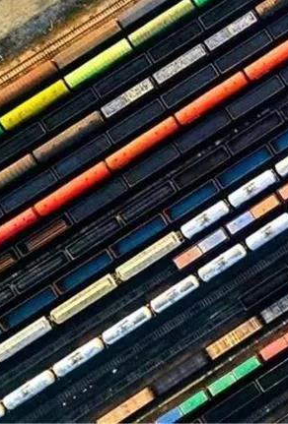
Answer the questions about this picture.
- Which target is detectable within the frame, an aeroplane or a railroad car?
railroad car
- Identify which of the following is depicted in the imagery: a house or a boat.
boat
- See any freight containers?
Yes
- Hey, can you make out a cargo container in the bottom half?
Yes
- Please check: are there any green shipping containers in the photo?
Yes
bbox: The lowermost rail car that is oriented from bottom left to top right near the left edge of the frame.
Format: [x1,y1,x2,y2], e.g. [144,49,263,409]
[4,368,59,409]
